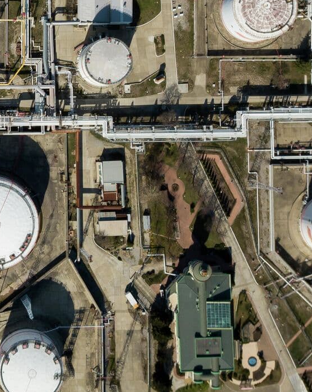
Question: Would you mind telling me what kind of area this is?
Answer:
industrial area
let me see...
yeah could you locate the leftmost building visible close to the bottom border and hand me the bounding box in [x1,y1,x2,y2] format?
[169,253,234,391]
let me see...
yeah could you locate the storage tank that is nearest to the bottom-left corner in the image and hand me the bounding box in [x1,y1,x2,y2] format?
[0,319,69,392]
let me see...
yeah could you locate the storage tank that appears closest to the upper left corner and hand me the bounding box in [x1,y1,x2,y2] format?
[70,34,133,92]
